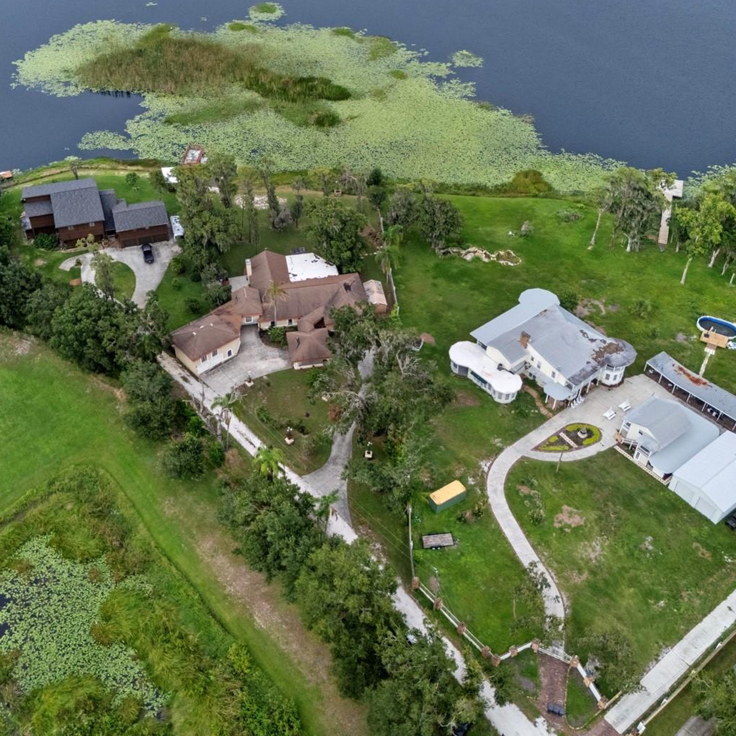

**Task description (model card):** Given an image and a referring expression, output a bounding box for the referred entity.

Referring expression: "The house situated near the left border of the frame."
[21,180,169,248]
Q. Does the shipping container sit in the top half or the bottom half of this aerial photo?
bottom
